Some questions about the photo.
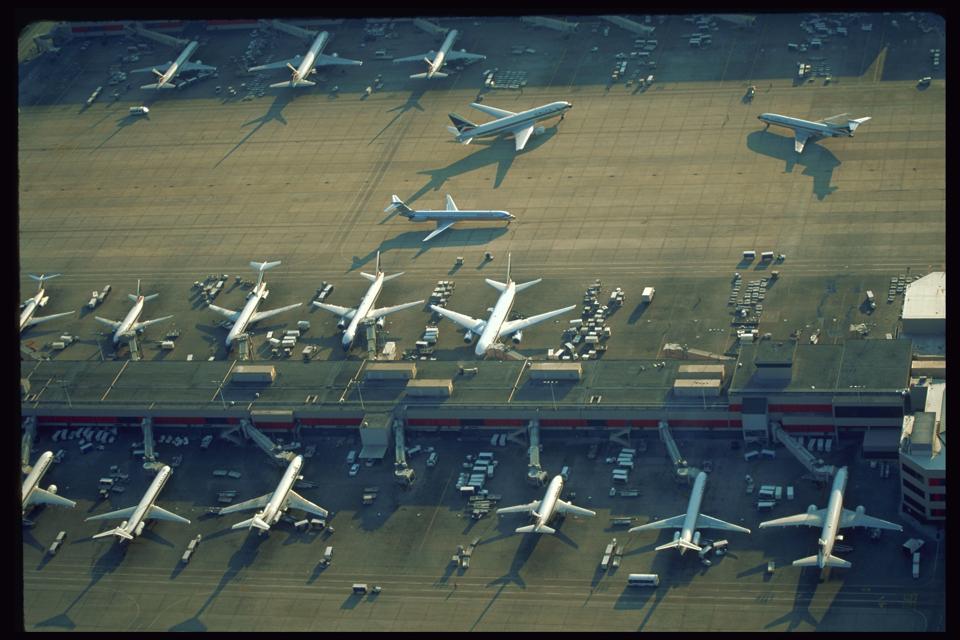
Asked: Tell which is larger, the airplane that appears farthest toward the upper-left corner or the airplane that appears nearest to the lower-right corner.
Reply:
the airplane that appears nearest to the lower-right corner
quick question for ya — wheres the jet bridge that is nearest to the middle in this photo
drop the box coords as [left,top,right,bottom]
[492,343,537,359]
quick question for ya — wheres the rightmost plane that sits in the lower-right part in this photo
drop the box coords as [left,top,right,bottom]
[759,465,903,566]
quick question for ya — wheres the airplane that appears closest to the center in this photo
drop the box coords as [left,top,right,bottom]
[431,252,573,357]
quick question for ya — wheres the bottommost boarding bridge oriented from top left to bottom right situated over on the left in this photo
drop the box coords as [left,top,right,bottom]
[234,423,293,472]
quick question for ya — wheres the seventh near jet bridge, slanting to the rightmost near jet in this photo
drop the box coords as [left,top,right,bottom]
[770,428,836,487]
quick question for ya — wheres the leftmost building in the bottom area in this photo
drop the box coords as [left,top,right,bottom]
[0,359,734,467]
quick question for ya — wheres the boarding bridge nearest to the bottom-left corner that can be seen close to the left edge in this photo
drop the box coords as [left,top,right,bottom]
[17,416,39,479]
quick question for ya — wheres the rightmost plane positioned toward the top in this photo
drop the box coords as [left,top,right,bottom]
[757,112,869,151]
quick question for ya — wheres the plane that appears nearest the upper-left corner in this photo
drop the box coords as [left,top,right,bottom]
[131,40,218,88]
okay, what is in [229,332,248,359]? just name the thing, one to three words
jet bridge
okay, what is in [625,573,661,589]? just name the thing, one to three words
vehicle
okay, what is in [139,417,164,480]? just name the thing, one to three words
jet bridge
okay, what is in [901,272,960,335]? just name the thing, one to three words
building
